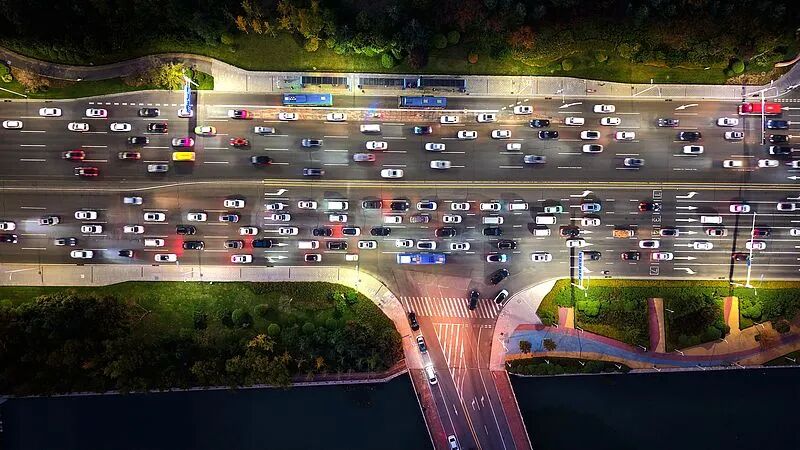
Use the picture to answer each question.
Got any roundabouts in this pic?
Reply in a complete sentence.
No, no roundabout is visible in the view.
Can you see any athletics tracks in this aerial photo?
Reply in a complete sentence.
No, no athletics track can be seen from above.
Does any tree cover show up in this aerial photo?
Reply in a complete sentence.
Yes, there's tree cover in this view.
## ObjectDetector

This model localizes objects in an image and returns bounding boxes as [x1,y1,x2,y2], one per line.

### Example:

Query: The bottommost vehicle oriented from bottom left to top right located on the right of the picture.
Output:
[492,288,509,307]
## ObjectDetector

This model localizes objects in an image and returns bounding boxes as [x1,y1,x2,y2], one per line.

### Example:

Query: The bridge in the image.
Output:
[409,370,534,450]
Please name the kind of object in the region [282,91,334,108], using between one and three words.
vehicle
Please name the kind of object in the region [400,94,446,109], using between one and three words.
vehicle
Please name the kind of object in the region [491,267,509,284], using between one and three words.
car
